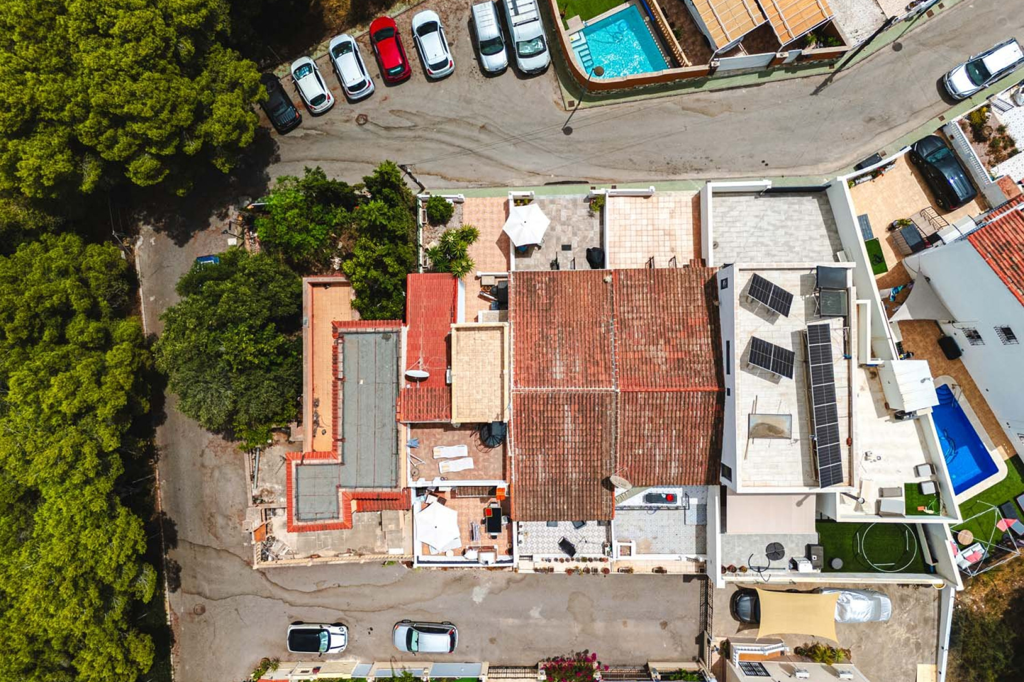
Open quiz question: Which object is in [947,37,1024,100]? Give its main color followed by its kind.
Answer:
white car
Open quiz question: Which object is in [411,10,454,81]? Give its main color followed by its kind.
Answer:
white car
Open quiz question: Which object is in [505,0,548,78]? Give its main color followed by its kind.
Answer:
white van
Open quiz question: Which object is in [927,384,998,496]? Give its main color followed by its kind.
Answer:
blue swimming pool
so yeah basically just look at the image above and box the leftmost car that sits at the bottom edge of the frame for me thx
[287,619,349,658]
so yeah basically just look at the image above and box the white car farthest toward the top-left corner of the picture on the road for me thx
[290,55,336,118]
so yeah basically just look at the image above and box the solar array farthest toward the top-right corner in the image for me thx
[743,273,794,317]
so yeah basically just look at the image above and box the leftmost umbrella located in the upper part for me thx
[503,204,550,247]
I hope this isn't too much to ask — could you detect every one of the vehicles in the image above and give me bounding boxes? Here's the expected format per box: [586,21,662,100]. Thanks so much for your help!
[907,134,975,211]
[505,0,548,78]
[290,55,336,118]
[947,37,1024,100]
[369,16,412,85]
[287,619,349,658]
[257,70,308,139]
[471,0,509,78]
[411,10,454,81]
[329,33,376,103]
[393,618,458,657]
[730,589,760,626]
